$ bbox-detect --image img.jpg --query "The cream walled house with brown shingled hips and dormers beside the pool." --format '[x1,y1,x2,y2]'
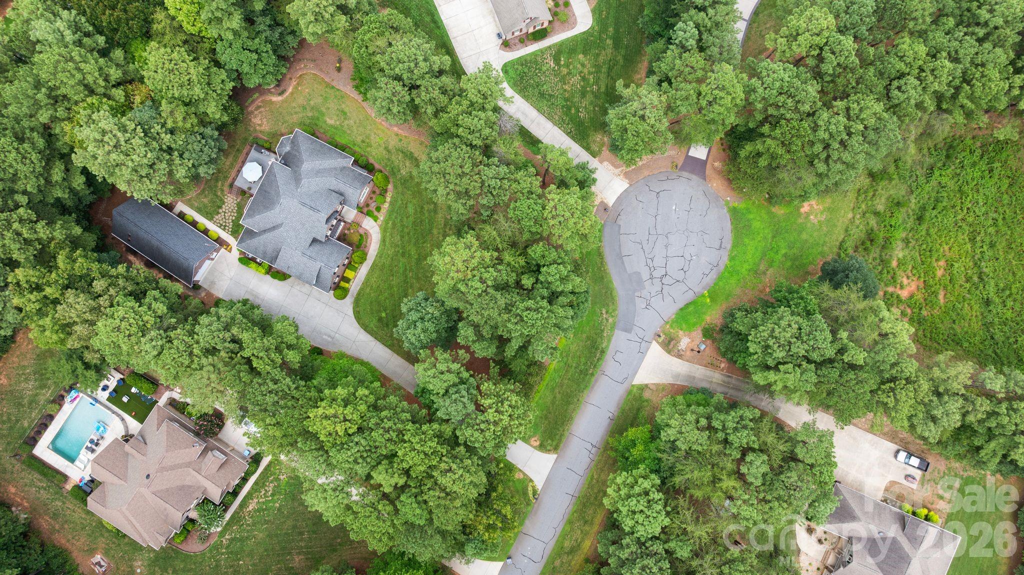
[87,404,252,551]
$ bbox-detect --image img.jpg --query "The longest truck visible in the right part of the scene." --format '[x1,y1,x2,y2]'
[891,447,931,474]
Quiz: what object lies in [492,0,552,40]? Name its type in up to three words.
house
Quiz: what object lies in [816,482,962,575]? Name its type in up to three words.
house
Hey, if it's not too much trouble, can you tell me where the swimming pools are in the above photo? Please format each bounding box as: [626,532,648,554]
[45,401,118,474]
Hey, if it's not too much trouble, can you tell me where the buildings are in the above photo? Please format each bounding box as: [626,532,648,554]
[816,482,962,575]
[111,196,222,286]
[492,0,552,40]
[236,129,373,294]
[87,404,252,551]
